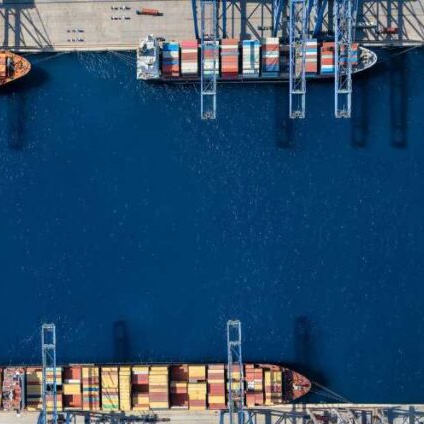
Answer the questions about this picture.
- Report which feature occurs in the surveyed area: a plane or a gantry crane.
gantry crane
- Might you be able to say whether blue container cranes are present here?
Yes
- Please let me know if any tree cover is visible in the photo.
No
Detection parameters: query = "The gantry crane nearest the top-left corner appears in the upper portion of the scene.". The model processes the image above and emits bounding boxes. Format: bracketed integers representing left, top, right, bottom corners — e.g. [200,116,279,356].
[178,0,226,119]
